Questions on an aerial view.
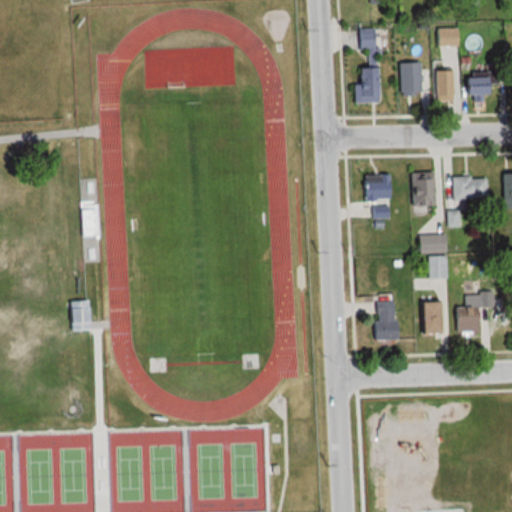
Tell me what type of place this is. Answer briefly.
sports ground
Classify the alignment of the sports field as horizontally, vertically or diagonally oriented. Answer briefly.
vertically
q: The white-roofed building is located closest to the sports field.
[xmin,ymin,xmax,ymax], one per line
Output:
[71,300,92,332]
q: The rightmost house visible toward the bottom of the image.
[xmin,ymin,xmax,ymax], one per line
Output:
[456,290,496,338]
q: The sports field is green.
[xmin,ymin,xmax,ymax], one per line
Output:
[120,30,274,402]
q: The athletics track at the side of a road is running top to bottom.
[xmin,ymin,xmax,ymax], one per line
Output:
[97,9,298,422]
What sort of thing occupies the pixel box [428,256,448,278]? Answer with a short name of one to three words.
building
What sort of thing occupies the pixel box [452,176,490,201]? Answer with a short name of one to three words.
house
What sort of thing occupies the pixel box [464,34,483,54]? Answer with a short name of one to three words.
swimming pool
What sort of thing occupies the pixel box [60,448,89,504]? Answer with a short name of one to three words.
tennis court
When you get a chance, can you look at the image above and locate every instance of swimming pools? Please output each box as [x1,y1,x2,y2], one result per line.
[464,34,483,54]
[410,44,422,56]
